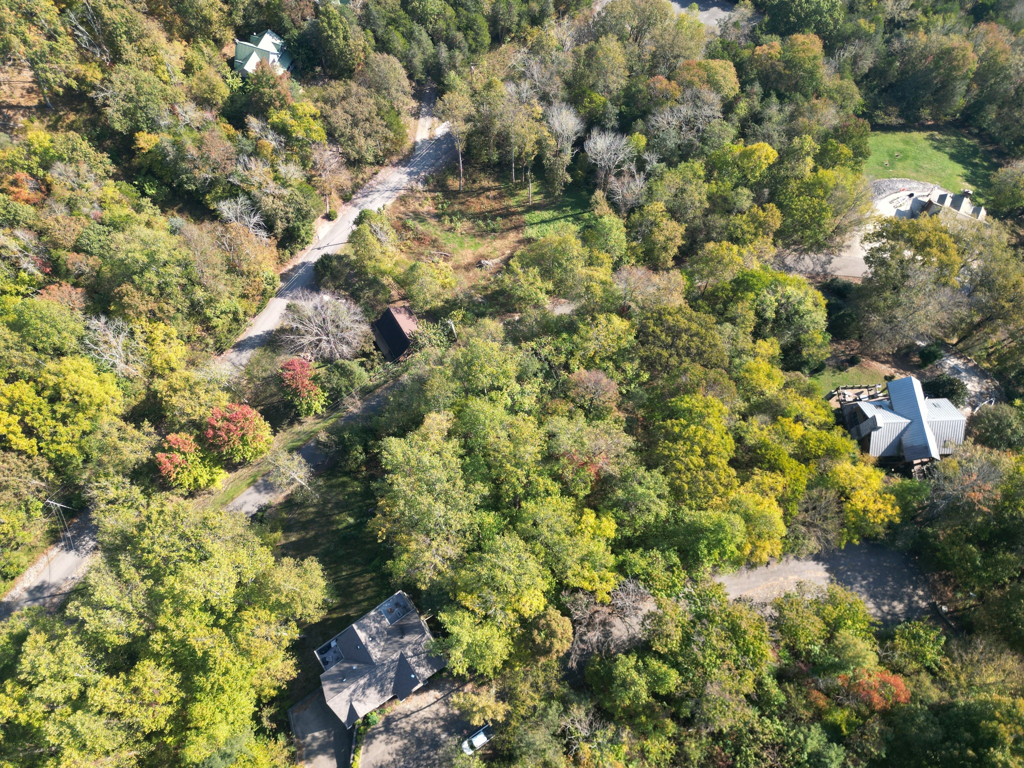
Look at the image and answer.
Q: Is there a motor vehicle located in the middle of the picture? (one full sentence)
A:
No, the scene shows no motor vehicle in the middle of the picture.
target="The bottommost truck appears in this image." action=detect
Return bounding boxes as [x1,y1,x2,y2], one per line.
[463,721,500,757]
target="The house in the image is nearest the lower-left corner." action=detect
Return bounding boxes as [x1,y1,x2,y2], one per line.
[316,593,455,731]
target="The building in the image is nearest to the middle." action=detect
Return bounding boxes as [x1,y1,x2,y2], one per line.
[374,305,430,369]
